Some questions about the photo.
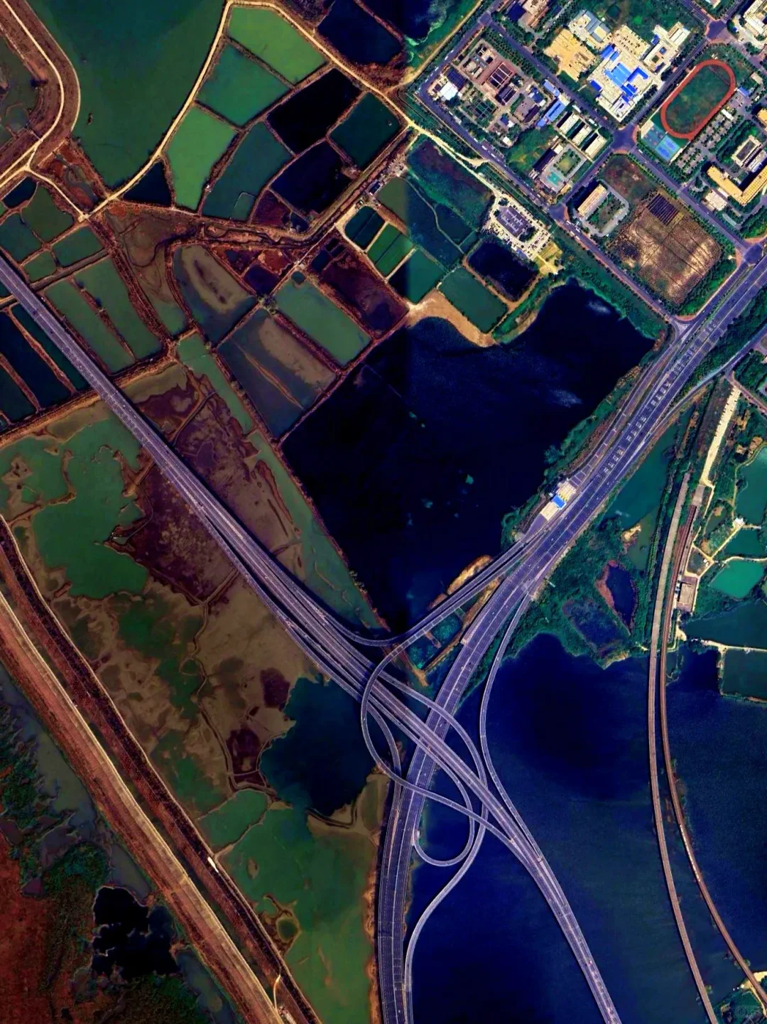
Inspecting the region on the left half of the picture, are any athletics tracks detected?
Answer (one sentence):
No, on the left half of the picture there is no athletics track.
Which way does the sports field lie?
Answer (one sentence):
In this picture, the sports field is oriented diagonally.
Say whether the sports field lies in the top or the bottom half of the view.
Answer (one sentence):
The top half of the photo is where the sports field is.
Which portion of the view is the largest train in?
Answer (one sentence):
Look in the bottom right portion of the view to spot the largest train.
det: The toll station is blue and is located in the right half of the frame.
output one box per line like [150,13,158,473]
[543,413,626,519]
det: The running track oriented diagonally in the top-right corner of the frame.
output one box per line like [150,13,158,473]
[661,60,736,139]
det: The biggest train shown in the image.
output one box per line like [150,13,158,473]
[682,821,702,879]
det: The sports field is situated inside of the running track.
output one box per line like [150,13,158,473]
[667,65,731,130]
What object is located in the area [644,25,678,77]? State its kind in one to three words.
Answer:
building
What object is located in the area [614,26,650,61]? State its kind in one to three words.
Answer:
building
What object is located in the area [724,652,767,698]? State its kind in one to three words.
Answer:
pond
